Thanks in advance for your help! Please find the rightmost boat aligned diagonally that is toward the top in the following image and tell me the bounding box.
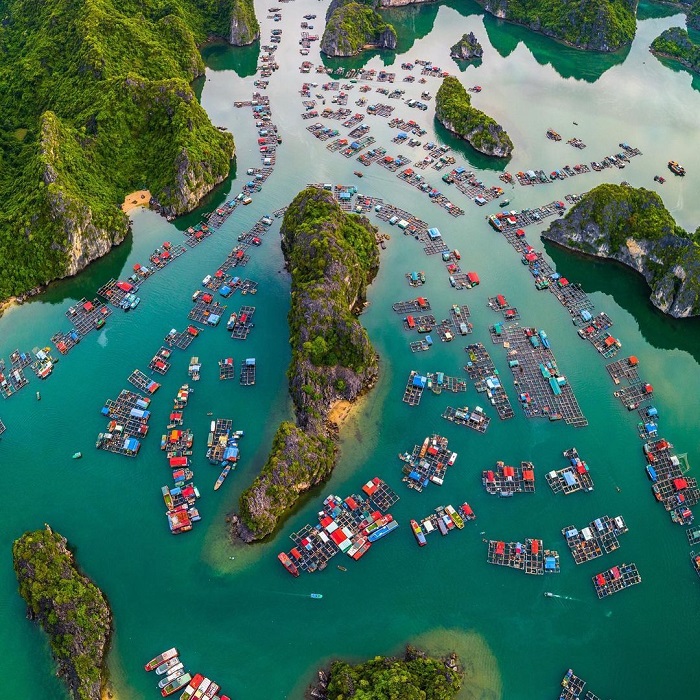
[668,161,686,175]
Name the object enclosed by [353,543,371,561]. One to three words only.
boat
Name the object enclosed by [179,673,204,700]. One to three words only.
boat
